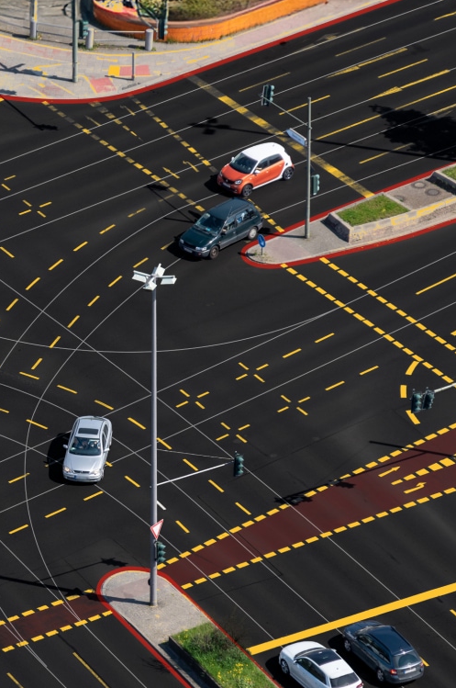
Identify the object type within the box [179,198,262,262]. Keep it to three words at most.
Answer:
car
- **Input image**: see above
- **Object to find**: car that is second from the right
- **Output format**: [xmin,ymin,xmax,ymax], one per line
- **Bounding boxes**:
[281,644,362,688]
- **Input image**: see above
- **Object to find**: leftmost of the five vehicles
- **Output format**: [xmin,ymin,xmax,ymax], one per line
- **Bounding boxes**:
[61,418,111,481]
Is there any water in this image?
No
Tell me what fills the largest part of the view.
paved ground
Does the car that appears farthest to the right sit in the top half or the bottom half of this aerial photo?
bottom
